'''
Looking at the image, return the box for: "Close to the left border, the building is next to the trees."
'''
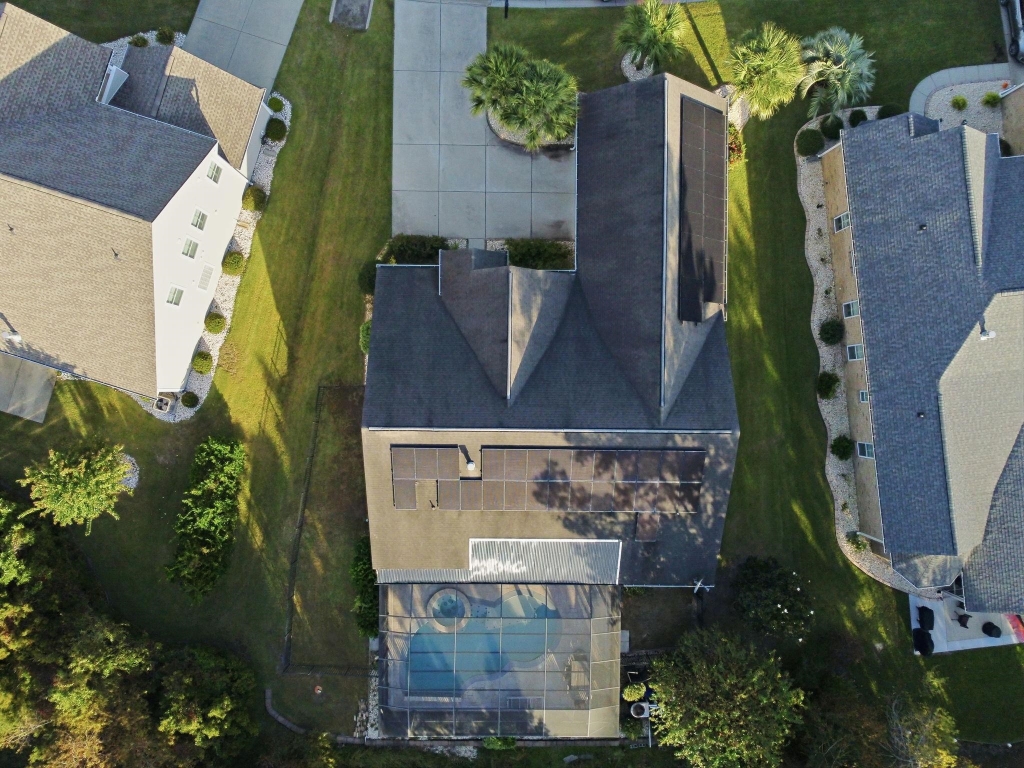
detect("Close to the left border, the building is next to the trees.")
[0,0,284,404]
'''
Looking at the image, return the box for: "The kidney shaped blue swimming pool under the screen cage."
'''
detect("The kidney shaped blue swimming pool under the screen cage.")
[401,586,567,705]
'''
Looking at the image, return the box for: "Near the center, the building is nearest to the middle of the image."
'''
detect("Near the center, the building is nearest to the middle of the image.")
[362,73,738,587]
